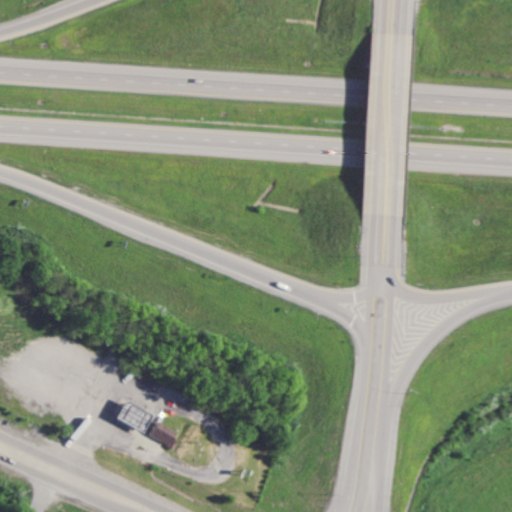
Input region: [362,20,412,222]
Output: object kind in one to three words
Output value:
bridge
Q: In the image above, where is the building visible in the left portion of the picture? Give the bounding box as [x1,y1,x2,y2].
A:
[146,424,177,450]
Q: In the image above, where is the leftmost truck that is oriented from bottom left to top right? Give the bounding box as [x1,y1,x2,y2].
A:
[65,414,92,448]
